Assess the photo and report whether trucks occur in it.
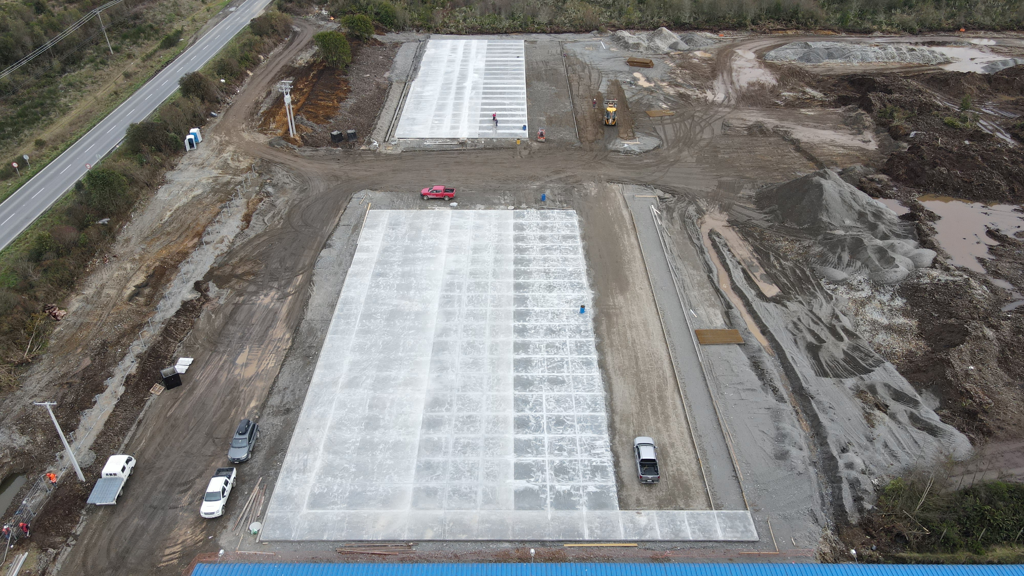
Yes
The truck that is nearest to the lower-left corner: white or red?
white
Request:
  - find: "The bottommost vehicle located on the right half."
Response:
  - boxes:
[633,434,663,482]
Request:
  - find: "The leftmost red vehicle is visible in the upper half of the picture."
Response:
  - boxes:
[419,185,458,201]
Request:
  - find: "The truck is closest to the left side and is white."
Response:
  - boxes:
[89,456,135,509]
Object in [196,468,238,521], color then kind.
white truck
